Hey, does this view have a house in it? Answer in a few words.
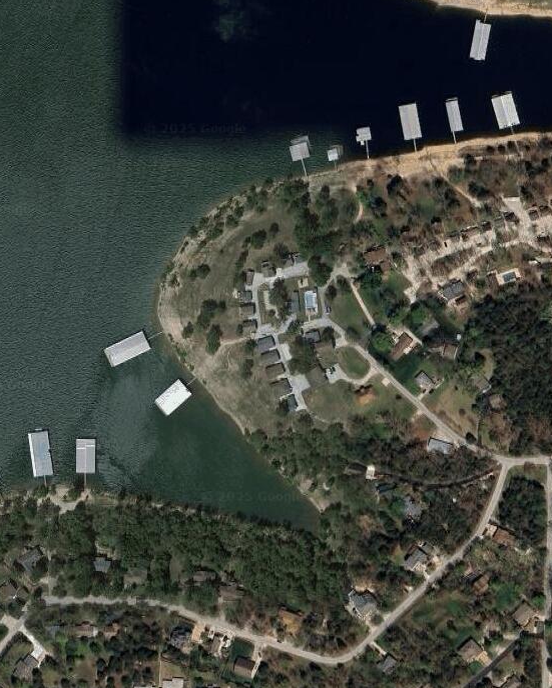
Yes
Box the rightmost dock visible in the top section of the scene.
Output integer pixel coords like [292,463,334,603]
[492,91,519,134]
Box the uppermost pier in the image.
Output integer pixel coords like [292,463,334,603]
[470,11,491,61]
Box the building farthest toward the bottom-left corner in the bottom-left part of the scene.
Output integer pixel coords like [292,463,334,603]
[14,661,44,682]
